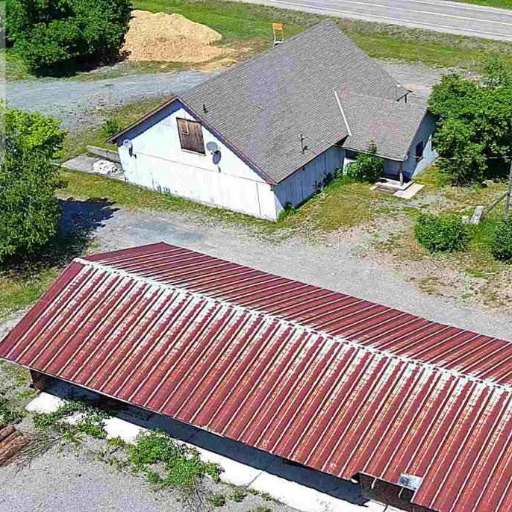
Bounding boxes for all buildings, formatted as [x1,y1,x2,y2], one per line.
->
[105,20,446,220]
[0,241,512,512]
